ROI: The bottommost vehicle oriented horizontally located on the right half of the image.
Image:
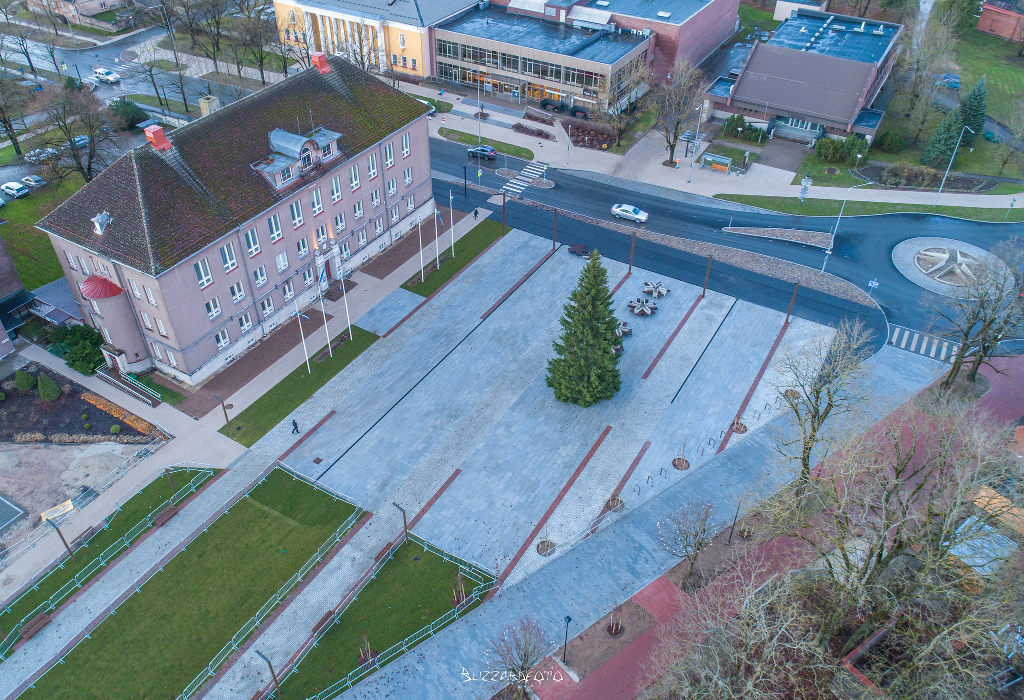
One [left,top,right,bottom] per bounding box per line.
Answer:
[612,203,647,221]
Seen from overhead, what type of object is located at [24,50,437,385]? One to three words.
building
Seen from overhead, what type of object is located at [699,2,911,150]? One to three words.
building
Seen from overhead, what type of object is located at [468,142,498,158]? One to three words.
car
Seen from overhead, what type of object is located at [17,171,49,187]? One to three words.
car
